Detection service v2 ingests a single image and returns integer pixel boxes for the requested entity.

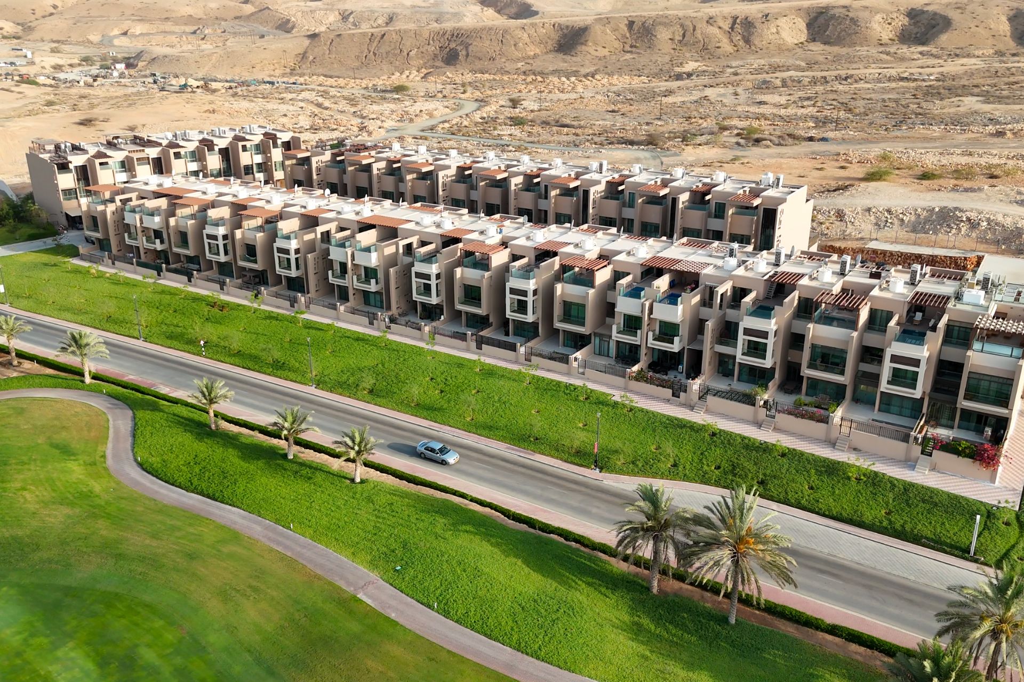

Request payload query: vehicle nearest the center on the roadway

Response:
[416,439,461,465]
